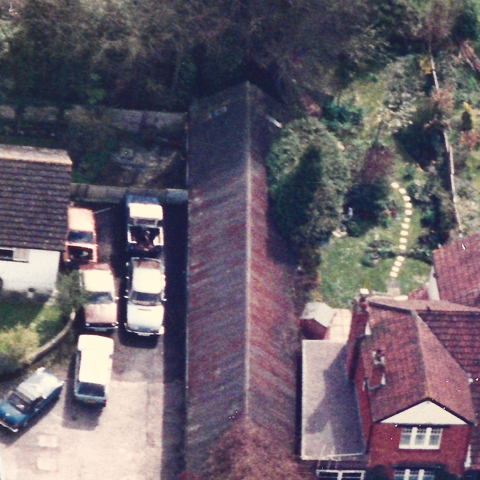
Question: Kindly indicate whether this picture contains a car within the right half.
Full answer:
No, no car can be made out within the right half.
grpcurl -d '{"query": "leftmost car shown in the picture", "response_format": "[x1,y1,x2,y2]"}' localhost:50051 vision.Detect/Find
[0,371,70,437]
